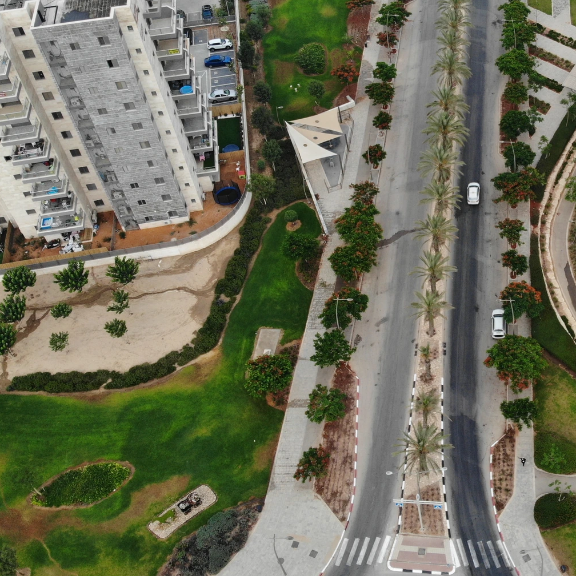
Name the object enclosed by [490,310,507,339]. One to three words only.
car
